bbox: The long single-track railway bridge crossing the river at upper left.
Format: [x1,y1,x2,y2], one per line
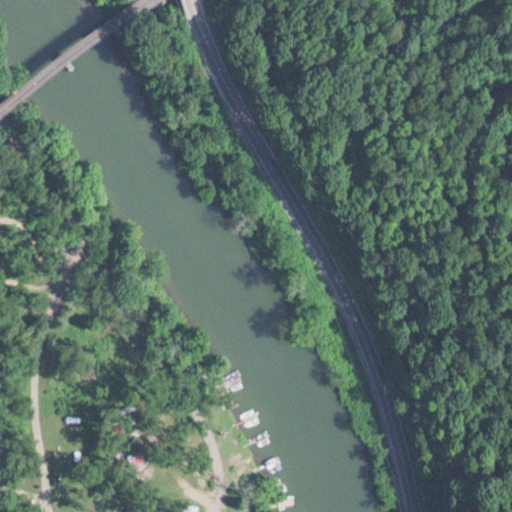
[0,0,143,120]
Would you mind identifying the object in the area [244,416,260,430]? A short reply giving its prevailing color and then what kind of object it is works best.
white boat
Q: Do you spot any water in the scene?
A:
Yes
